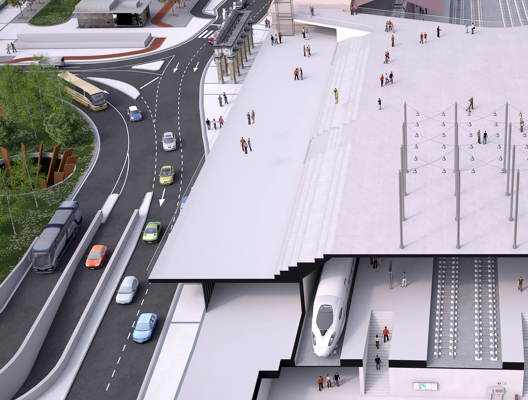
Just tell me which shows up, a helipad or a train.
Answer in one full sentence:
Looking from above, you can make out a train.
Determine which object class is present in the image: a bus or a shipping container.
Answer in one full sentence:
The image shows a bus.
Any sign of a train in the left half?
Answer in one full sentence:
No, no train is visible in the left half.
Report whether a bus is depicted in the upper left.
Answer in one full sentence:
Yes, you'll find a bus in the upper left.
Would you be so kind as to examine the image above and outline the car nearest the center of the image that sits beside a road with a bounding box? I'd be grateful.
[176,192,190,216]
